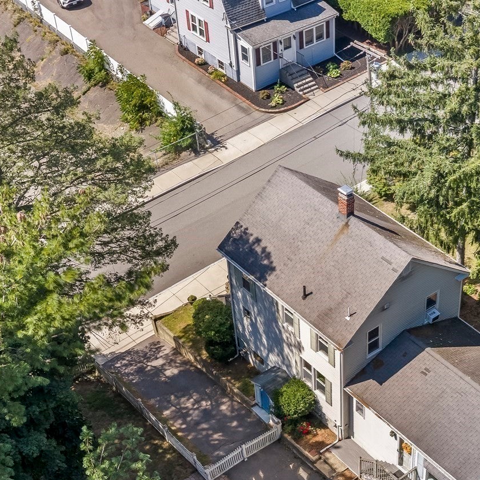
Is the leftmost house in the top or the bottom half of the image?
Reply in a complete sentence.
The leftmost house sits in the top half of the picture.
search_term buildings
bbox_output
[216,167,480,480]
[141,0,344,89]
